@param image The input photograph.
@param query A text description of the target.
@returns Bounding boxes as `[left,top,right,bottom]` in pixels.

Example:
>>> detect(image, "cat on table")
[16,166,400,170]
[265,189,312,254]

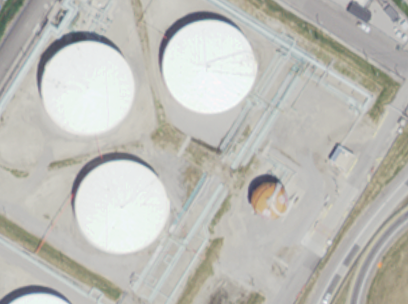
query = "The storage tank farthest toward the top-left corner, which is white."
[39,38,138,138]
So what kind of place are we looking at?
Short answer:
industrial area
